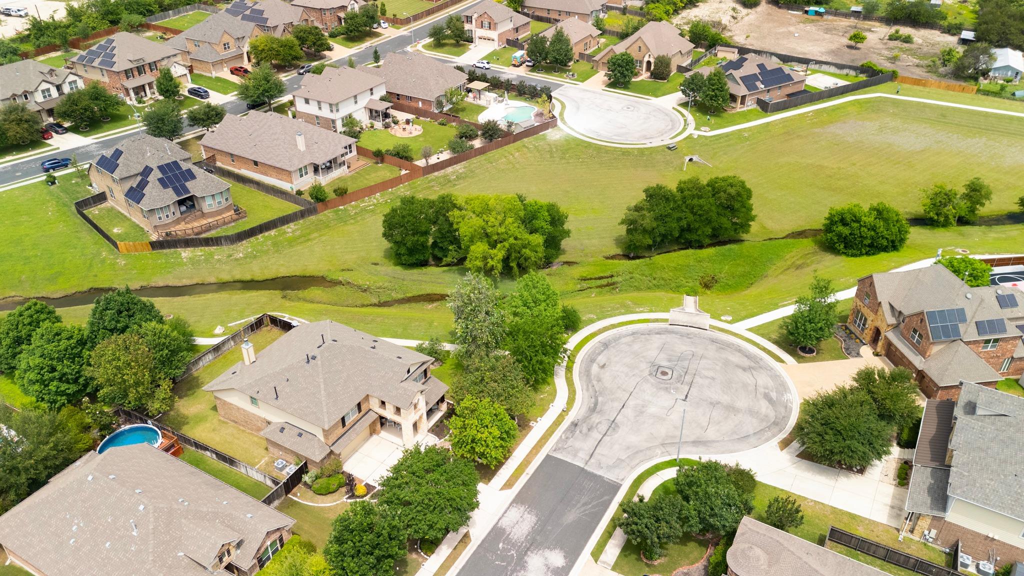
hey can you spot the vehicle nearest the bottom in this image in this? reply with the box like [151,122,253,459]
[40,156,70,170]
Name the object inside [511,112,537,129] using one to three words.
shed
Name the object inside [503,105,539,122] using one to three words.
swimming pool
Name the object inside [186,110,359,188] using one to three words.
house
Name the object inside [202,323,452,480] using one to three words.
house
